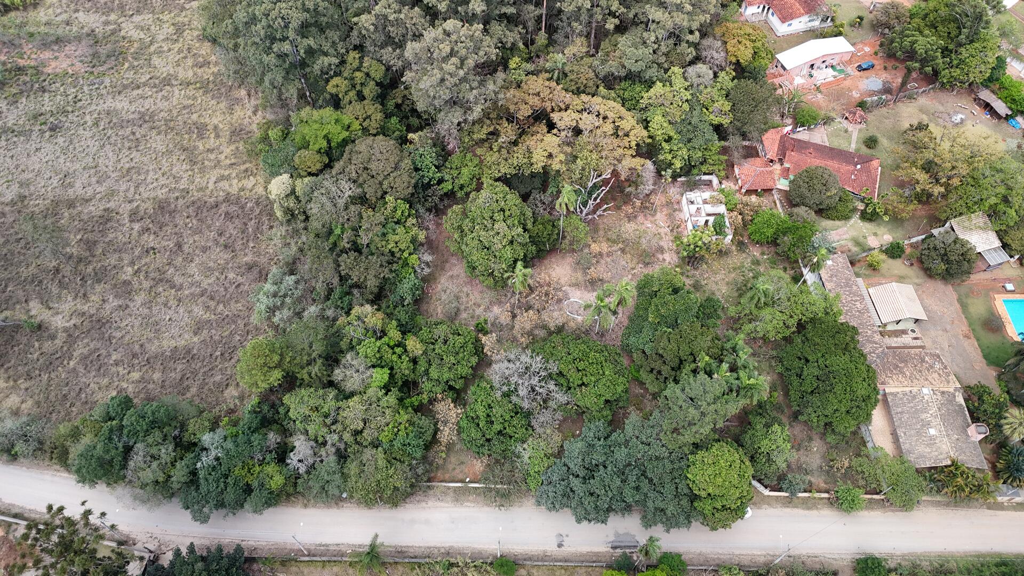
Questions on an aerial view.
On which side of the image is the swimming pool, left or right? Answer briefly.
right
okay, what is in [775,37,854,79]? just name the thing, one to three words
house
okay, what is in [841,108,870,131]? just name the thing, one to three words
gazebo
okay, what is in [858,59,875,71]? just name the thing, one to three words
vehicle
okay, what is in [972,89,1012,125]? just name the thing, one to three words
shed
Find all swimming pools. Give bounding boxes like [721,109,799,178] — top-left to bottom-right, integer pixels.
[994,294,1024,342]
